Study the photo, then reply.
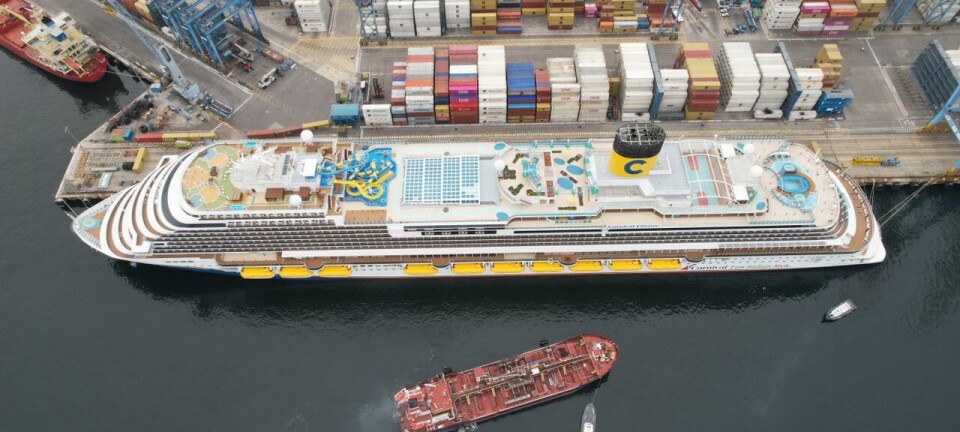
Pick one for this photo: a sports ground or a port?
port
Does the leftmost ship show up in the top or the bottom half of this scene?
top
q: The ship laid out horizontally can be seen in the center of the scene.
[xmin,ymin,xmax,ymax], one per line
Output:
[69,120,894,279]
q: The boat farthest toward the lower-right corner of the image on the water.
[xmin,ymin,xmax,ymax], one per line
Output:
[824,300,858,320]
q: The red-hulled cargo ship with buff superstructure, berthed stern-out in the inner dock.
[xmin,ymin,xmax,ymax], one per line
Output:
[0,0,112,78]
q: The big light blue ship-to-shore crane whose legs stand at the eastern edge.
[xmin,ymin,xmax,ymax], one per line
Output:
[913,87,960,140]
